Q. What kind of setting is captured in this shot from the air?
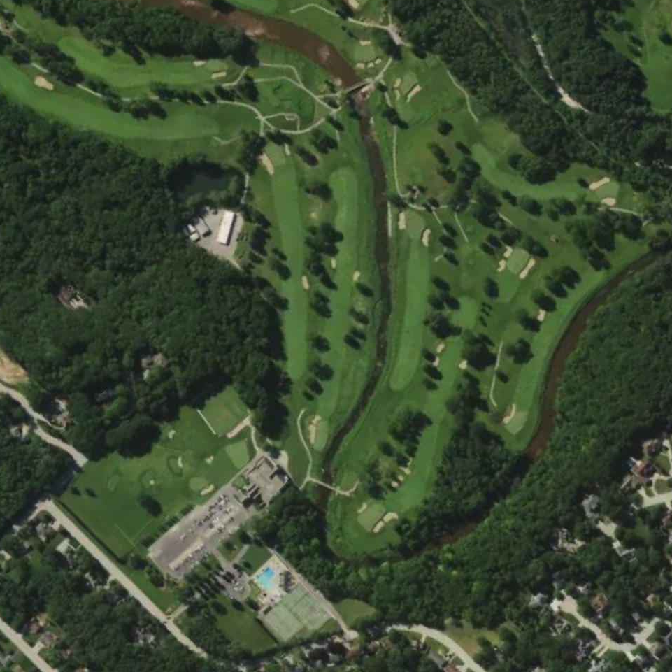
golf course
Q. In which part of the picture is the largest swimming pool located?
bottom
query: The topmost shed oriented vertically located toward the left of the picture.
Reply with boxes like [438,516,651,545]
[217,211,234,244]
